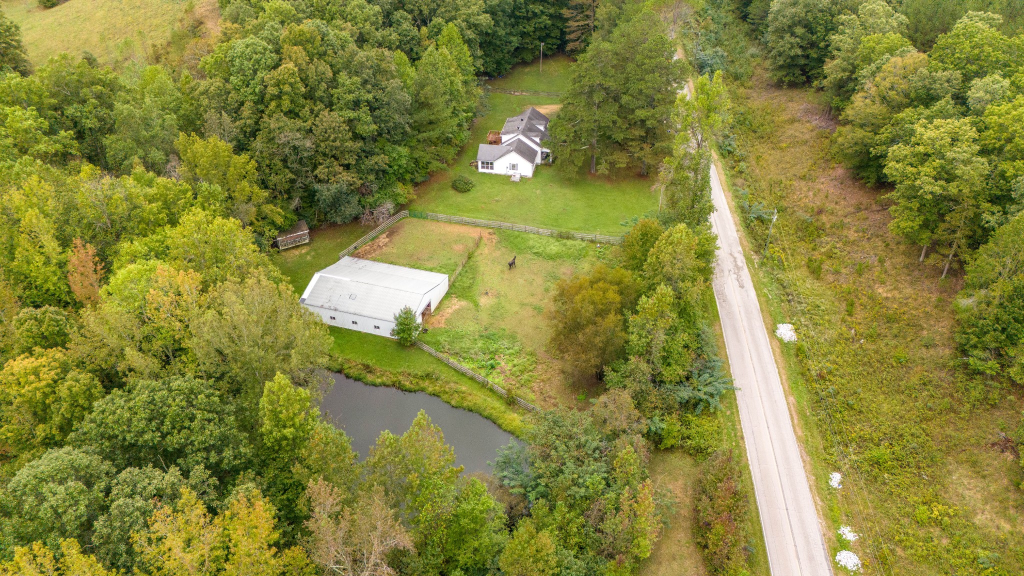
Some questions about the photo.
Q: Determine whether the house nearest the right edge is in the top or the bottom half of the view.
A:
top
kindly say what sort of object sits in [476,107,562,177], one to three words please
house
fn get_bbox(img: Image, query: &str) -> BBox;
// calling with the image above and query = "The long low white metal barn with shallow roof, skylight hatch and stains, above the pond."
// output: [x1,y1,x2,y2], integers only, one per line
[296,256,449,337]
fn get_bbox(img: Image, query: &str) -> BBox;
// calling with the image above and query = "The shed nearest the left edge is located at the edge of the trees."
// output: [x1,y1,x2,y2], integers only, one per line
[272,221,311,250]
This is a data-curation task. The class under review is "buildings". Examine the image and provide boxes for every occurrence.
[476,107,562,177]
[272,221,311,250]
[296,256,449,337]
